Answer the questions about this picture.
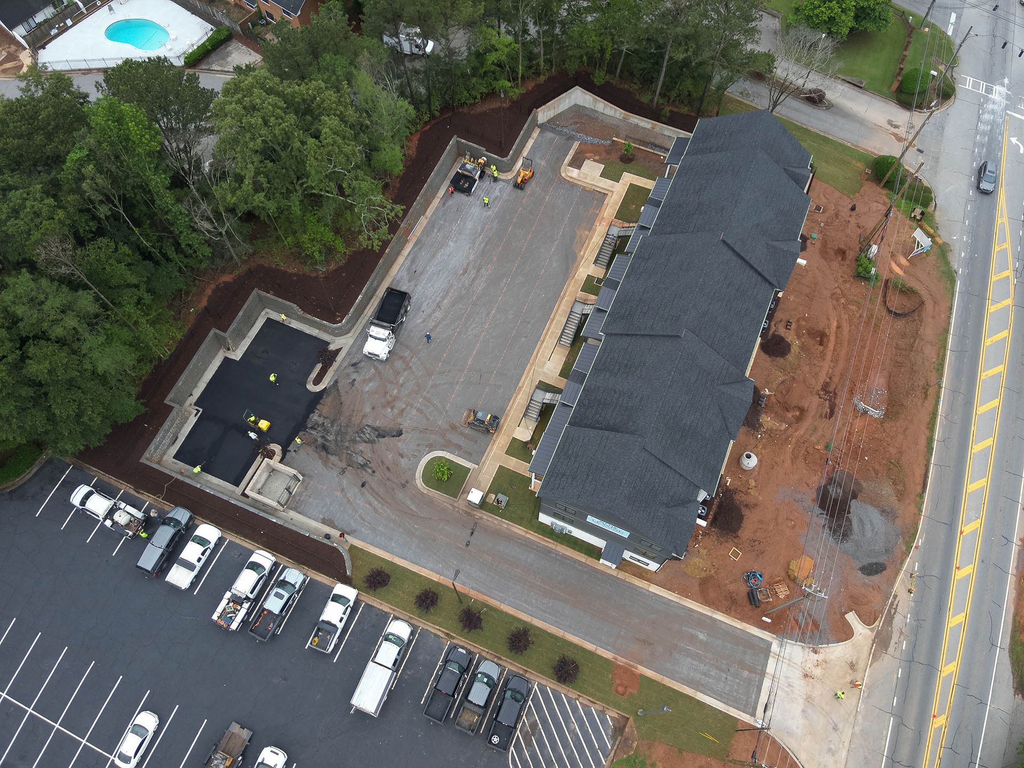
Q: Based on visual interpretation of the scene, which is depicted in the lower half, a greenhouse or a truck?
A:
truck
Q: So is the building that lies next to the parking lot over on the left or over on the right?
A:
right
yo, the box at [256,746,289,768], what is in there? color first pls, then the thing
white car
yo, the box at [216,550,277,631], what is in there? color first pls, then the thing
white truck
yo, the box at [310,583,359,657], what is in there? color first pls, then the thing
white truck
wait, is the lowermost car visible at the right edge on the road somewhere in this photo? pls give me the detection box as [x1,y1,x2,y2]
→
[974,158,999,198]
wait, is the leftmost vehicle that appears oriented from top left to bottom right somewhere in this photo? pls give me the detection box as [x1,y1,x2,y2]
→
[69,484,149,544]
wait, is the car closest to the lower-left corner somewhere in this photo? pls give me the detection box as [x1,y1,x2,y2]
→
[112,709,161,768]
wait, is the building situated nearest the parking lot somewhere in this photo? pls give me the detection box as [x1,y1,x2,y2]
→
[526,114,821,572]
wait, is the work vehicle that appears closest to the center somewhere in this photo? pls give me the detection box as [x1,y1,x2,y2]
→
[462,408,500,435]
